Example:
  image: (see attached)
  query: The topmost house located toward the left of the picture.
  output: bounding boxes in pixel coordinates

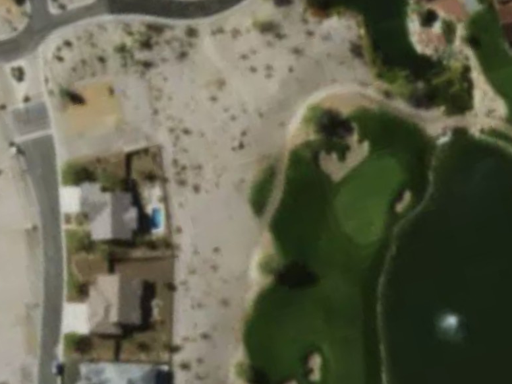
[80,183,138,241]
